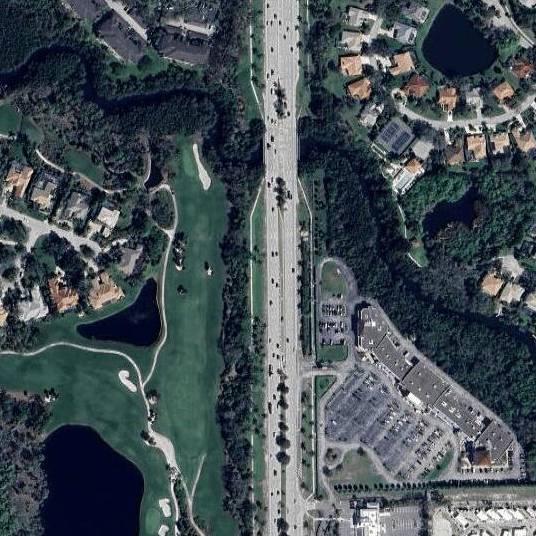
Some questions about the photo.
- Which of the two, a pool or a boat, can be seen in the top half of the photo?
pool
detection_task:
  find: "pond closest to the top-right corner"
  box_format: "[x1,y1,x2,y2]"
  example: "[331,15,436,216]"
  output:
[423,3,500,78]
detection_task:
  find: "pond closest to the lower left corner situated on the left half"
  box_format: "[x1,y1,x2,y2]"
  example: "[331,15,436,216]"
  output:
[77,276,162,347]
